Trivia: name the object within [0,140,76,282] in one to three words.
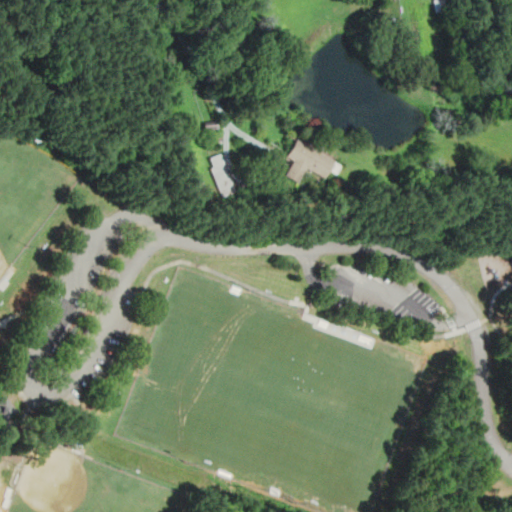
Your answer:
baseball field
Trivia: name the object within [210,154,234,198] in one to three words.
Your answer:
house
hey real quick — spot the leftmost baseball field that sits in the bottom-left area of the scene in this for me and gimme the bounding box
[7,446,172,512]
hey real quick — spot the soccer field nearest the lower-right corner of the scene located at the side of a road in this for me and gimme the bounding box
[117,267,420,512]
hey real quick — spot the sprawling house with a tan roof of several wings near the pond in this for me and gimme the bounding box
[286,140,336,186]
